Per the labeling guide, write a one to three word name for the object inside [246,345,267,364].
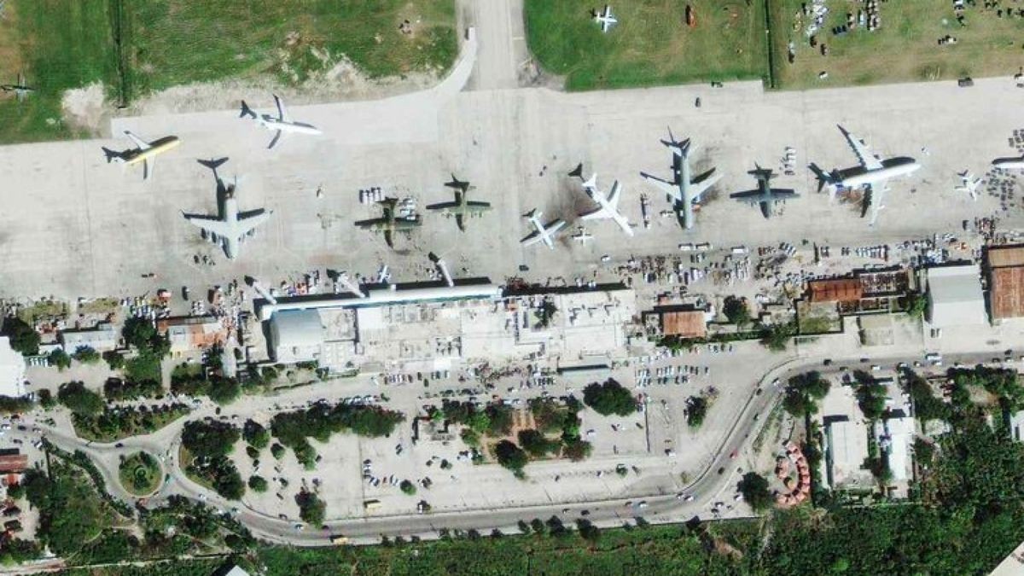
house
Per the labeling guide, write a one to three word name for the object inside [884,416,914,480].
building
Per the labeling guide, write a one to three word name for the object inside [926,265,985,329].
hangar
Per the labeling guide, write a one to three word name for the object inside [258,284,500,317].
building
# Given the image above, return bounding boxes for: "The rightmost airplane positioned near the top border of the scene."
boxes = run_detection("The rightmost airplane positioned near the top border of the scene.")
[597,6,617,33]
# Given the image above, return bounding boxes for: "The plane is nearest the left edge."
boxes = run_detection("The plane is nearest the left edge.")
[112,130,178,180]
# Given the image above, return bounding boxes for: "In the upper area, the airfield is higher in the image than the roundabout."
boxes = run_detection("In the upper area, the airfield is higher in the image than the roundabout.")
[0,0,1024,307]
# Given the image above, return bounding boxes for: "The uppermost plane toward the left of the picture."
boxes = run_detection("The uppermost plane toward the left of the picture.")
[253,97,321,150]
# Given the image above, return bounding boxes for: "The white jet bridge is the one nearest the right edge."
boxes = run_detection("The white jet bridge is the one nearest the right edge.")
[434,257,456,287]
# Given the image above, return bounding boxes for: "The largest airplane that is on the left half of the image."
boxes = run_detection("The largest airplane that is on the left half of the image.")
[191,169,271,258]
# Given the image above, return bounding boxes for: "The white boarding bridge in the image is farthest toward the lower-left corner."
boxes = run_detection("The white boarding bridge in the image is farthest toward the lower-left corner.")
[250,279,278,304]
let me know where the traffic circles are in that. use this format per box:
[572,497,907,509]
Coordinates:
[105,439,175,509]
